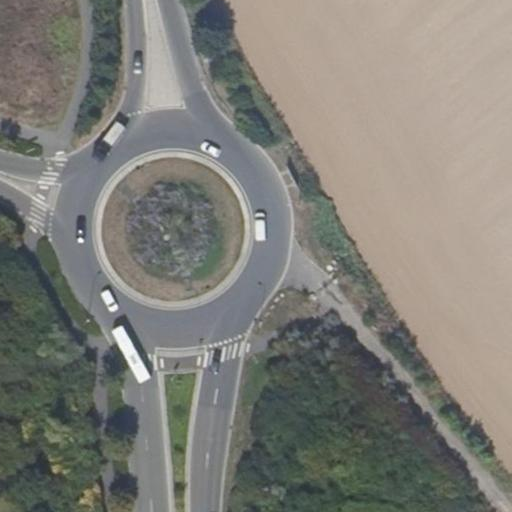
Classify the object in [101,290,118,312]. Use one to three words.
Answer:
car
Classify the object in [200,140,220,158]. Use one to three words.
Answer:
car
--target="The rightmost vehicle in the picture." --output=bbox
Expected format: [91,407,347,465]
[254,212,266,241]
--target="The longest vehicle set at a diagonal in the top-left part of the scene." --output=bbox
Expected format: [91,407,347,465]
[94,120,124,156]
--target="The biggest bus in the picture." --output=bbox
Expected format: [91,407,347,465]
[112,325,152,386]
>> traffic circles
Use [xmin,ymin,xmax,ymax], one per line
[52,109,292,350]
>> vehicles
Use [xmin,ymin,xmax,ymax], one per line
[112,325,152,386]
[94,120,124,156]
[254,212,266,241]
[200,140,220,158]
[76,221,86,243]
[132,54,143,75]
[101,290,118,312]
[212,352,222,374]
